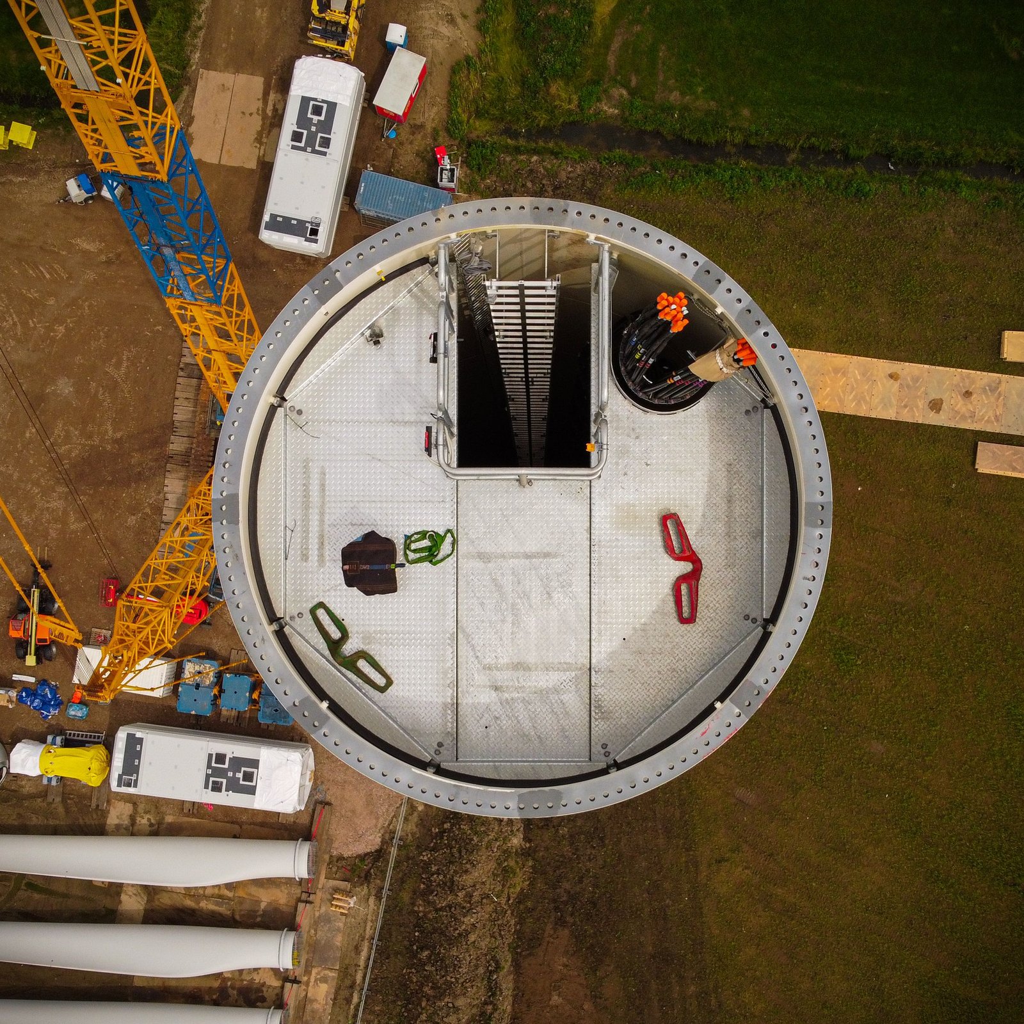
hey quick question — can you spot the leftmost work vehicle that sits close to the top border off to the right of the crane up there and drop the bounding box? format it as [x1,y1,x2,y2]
[304,0,365,67]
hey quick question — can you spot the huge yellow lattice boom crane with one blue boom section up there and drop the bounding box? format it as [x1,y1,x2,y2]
[0,0,261,706]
